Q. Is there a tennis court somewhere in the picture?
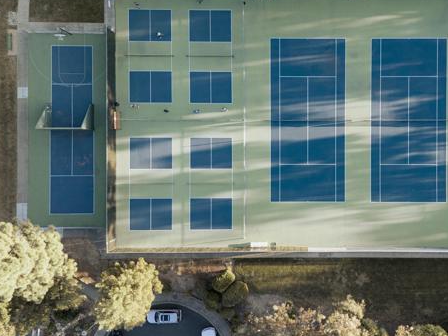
Yes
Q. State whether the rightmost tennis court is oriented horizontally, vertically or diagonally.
vertically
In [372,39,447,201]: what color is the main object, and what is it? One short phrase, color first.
blue tennis court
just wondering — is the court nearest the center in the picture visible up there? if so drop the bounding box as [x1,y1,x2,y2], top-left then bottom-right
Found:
[189,139,232,230]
